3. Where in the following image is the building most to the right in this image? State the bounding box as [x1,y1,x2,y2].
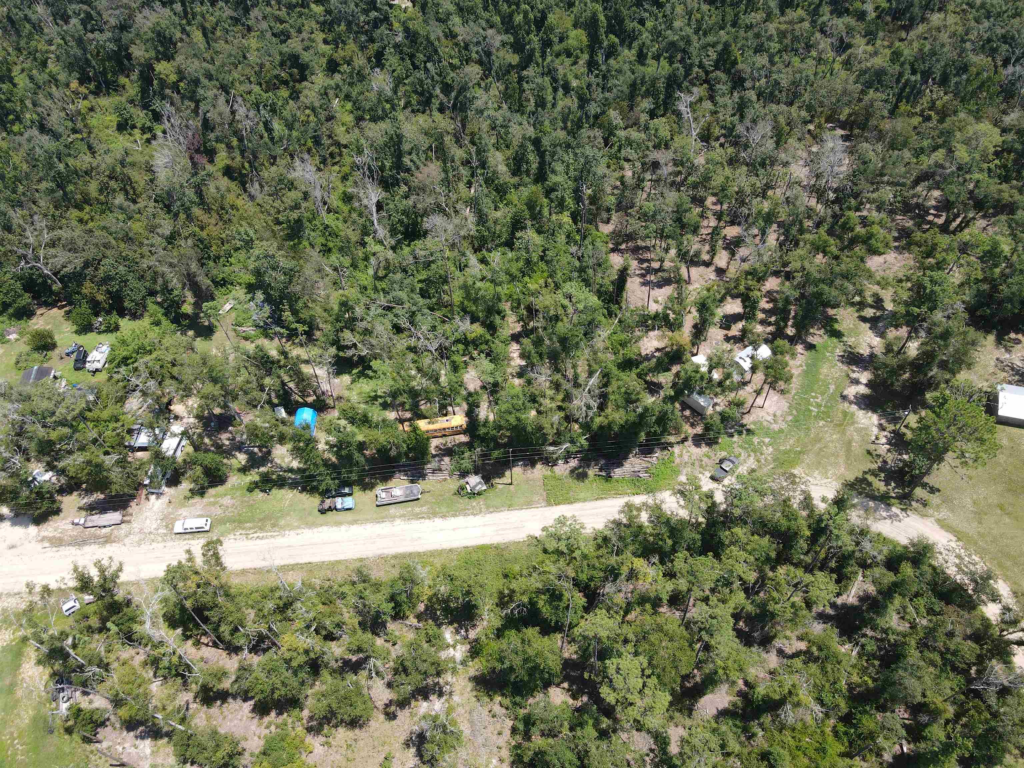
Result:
[990,386,1024,429]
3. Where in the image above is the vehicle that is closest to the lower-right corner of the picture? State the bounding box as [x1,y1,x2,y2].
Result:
[714,456,742,483]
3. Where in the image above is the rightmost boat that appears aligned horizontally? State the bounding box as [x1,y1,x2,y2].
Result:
[374,484,430,503]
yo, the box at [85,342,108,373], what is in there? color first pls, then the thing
white boat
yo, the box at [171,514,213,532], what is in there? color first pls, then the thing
white car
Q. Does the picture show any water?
No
